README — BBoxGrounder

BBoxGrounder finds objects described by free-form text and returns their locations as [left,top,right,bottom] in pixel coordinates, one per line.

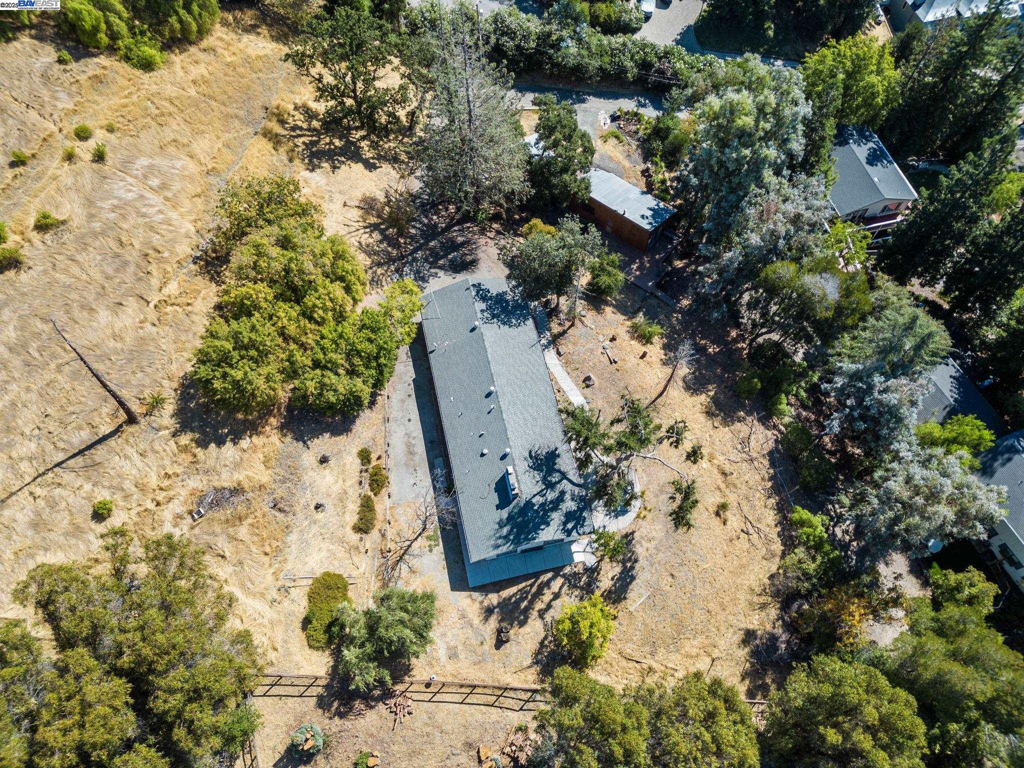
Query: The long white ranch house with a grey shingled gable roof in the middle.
[417,277,596,566]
